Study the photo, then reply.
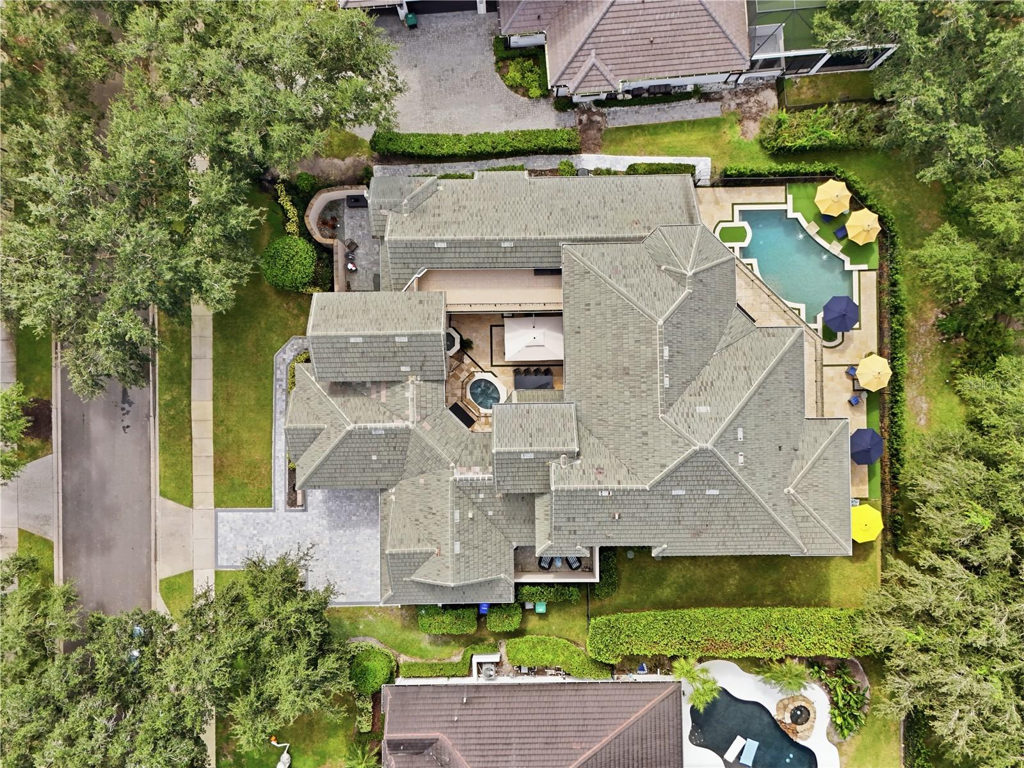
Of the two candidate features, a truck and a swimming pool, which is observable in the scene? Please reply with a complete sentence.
Looking from above, you can make out a swimming pool.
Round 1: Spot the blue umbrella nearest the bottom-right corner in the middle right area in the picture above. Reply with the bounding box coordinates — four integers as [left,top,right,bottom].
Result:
[851,429,883,464]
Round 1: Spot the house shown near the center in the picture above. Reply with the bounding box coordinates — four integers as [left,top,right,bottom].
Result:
[284,169,853,606]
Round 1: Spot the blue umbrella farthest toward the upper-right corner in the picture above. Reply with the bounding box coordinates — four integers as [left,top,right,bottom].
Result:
[823,296,858,331]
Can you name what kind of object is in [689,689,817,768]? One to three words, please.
swimming pool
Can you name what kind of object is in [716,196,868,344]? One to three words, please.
swimming pool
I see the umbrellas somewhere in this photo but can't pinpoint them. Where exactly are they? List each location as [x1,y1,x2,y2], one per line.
[851,429,883,464]
[844,209,882,245]
[852,502,885,544]
[854,353,893,392]
[823,296,858,331]
[813,179,851,217]
[504,304,563,359]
